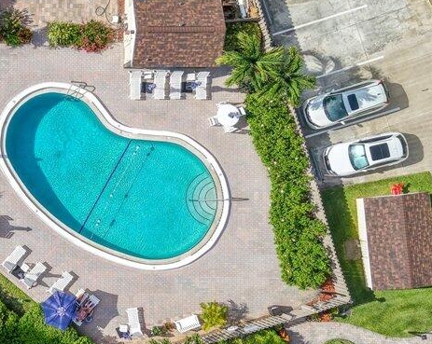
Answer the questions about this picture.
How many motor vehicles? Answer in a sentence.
The number of motor vehicles here is 2.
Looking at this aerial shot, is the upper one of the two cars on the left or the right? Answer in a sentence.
The upper one of the two cars is on the right side of the image.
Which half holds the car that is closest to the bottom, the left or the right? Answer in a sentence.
The car that is closest to the bottom appears in the right half of the scene.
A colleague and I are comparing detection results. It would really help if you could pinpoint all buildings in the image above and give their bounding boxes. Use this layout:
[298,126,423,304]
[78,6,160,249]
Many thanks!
[125,0,226,74]
[349,191,432,293]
